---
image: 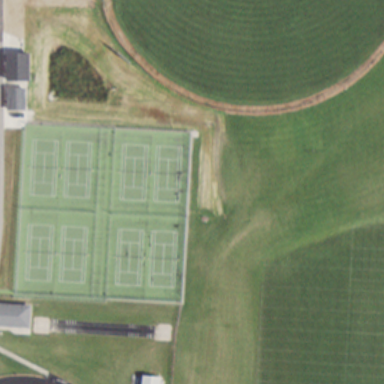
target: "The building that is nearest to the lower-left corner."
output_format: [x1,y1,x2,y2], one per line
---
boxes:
[0,302,32,328]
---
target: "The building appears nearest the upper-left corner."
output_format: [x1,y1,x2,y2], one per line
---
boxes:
[6,52,30,81]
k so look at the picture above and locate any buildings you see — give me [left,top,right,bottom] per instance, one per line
[140,374,161,384]
[6,85,26,110]
[6,52,30,81]
[0,302,32,328]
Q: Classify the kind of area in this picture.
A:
sports ground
